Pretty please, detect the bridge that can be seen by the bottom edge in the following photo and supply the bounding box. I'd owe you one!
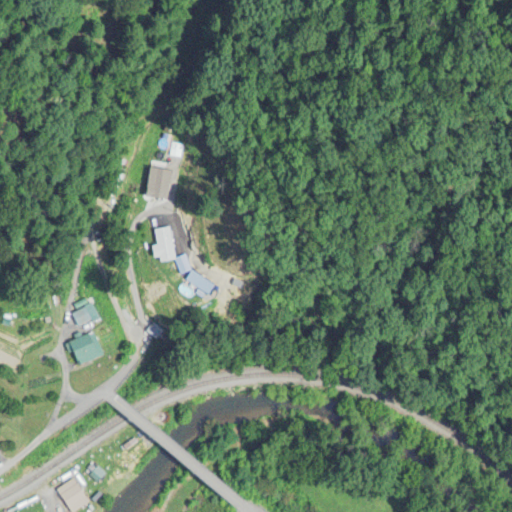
[102,390,249,512]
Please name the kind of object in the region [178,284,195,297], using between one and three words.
swimming pool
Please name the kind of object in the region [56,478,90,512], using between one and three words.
building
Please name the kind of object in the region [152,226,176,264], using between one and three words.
house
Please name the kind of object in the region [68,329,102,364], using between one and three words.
house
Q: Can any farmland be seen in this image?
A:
No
